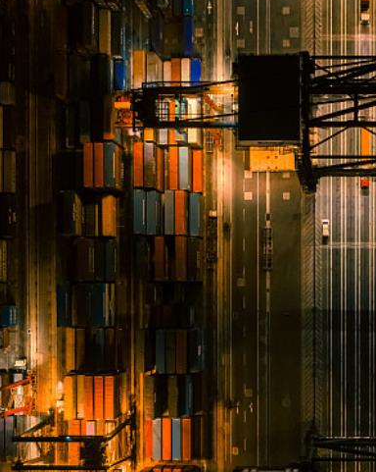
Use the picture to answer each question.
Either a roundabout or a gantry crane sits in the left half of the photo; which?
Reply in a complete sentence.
Looking in the left half of the photo, you will find a gantry crane.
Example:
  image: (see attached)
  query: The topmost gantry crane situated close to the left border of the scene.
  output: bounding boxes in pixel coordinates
[0,370,37,422]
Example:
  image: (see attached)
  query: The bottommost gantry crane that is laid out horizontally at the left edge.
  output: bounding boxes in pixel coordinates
[6,416,134,472]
